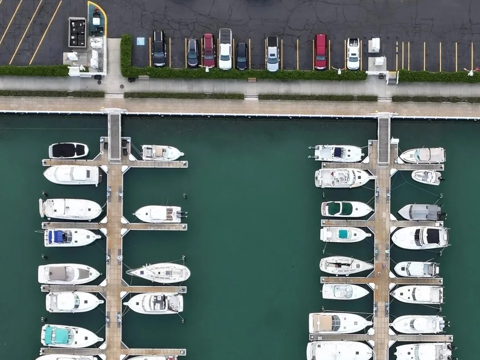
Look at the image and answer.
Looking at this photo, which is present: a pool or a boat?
boat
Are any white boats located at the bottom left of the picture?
Yes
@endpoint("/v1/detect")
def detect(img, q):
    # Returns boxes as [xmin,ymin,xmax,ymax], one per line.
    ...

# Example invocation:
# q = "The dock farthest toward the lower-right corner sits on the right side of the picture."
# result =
[388,325,454,351]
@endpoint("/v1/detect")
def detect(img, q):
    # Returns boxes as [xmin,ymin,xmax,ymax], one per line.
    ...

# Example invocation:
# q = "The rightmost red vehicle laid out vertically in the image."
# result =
[314,34,328,69]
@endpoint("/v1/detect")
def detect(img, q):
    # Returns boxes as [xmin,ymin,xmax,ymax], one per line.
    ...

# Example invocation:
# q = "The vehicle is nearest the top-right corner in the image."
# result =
[346,38,361,69]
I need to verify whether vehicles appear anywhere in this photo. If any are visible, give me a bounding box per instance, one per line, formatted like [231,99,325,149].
[266,36,280,70]
[186,38,200,67]
[235,42,249,70]
[218,28,233,69]
[202,34,216,68]
[152,31,166,67]
[346,38,361,69]
[314,34,328,69]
